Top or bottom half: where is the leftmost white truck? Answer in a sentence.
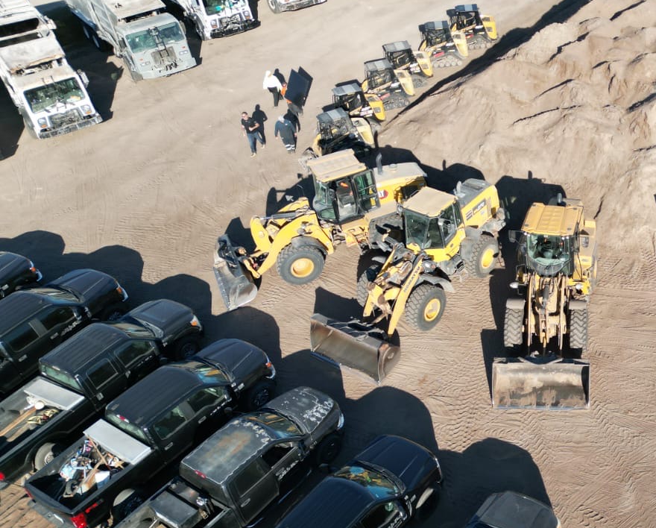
Seen from above, the leftmost white truck lies in the top half of the view.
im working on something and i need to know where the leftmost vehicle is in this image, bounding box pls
[0,248,48,310]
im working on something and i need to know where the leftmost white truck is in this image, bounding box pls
[0,0,101,133]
